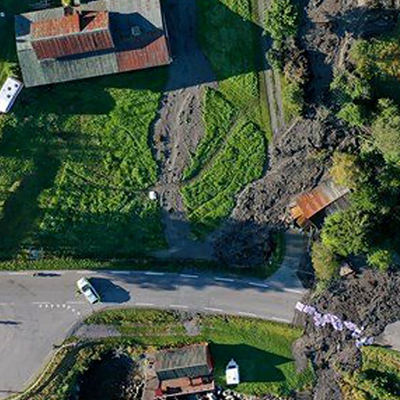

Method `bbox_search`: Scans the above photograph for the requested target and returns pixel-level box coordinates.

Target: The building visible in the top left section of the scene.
[13,0,172,87]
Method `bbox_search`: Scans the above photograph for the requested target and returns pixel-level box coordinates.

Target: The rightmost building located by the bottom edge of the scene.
[150,335,216,400]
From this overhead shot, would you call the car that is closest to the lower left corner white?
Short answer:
Yes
